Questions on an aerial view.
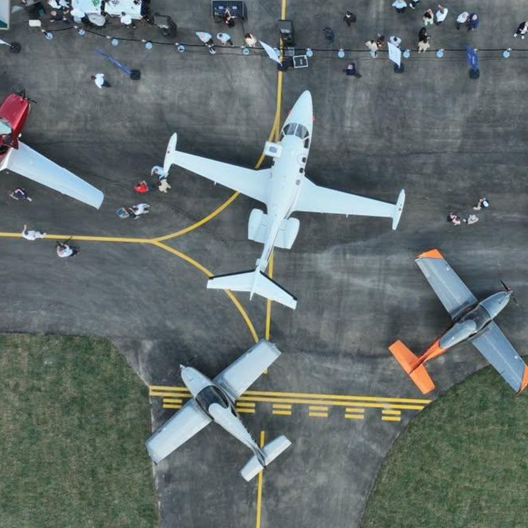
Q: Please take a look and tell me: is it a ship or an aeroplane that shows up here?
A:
aeroplane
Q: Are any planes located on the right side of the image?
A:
Yes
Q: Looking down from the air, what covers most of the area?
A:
paved ground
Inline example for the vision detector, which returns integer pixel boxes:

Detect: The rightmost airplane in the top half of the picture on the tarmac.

[164,89,405,309]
